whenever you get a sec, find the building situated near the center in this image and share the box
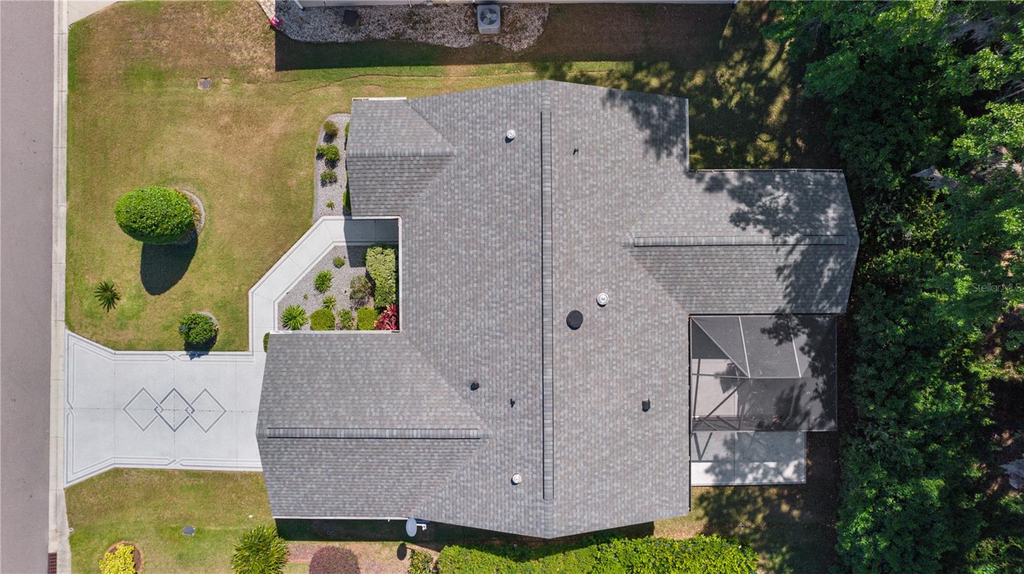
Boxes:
[257,79,858,539]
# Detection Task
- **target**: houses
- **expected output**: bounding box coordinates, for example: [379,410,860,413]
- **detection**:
[257,79,858,539]
[291,0,737,13]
